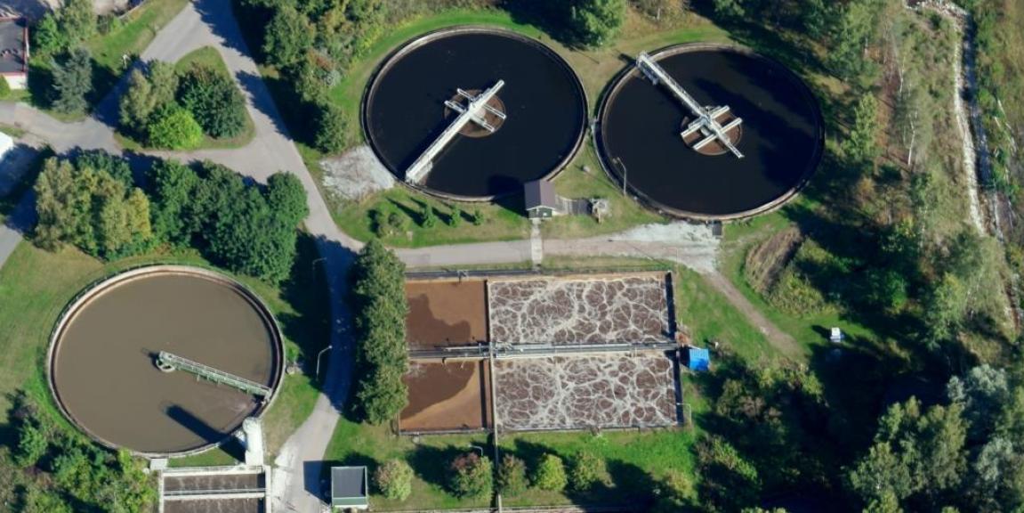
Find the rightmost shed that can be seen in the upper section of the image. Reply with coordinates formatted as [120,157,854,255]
[524,172,556,225]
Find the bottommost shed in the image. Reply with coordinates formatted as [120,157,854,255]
[330,468,367,513]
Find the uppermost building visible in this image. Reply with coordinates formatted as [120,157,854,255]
[0,16,33,89]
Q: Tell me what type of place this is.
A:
industrial area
